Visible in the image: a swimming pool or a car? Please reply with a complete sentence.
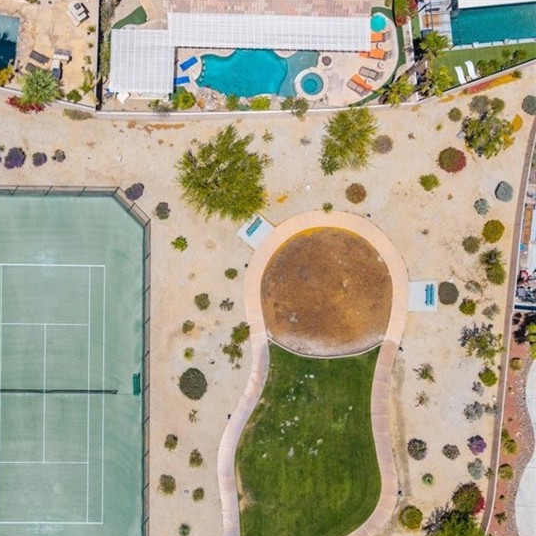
Of the two, only a swimming pool appears.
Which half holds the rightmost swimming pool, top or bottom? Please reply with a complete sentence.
It is in the top half that the rightmost swimming pool appears.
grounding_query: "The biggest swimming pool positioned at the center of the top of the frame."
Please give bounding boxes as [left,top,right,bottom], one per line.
[194,48,323,100]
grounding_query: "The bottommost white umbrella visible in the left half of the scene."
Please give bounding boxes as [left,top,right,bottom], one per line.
[115,92,131,108]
